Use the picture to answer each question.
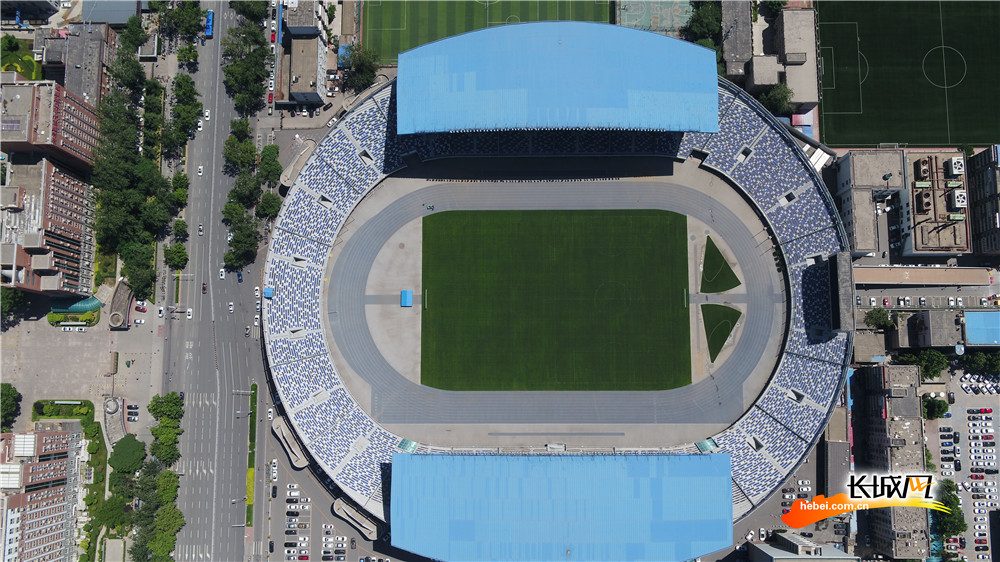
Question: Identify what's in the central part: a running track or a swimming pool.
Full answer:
Looking in the central part, you will find a running track.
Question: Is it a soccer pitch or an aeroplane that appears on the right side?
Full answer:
The feature located on the right side is a soccer pitch.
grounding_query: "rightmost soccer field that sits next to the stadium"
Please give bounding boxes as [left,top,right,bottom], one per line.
[820,0,1000,146]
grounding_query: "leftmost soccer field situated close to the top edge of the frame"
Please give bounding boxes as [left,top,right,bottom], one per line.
[362,0,611,67]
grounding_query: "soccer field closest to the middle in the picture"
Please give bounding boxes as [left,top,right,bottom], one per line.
[420,211,692,389]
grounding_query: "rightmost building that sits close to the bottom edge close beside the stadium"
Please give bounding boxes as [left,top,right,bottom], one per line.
[868,414,932,558]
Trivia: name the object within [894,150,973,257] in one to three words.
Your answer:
building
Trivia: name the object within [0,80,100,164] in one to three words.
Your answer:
building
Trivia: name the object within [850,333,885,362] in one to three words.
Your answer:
shed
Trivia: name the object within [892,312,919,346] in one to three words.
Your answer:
house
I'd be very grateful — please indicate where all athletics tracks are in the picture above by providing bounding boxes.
[326,182,784,424]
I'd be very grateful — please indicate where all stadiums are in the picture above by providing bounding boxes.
[263,21,854,562]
